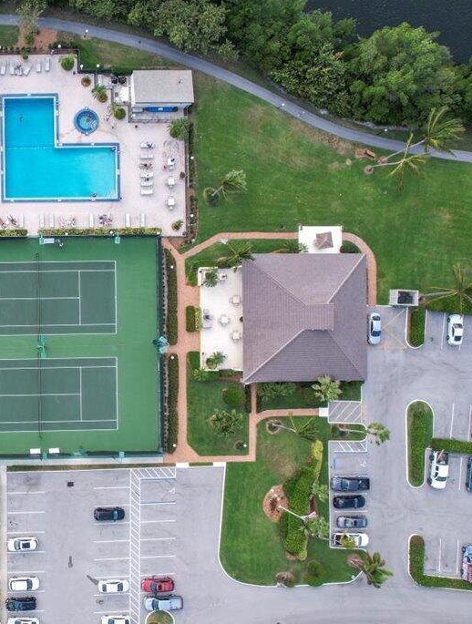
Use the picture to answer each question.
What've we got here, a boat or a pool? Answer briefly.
pool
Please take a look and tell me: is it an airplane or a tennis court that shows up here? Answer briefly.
tennis court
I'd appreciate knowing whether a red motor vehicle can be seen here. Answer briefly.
Yes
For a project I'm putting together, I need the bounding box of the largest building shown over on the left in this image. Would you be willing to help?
[130,69,194,121]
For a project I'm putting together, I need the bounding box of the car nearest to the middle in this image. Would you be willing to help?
[366,312,383,344]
